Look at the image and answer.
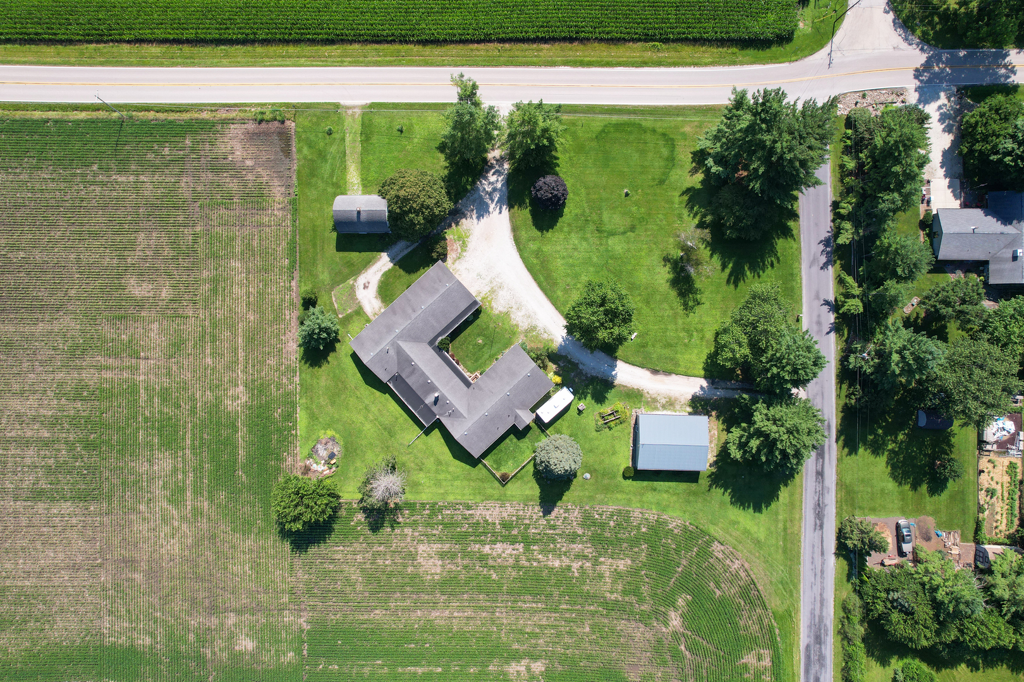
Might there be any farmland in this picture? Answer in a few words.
Yes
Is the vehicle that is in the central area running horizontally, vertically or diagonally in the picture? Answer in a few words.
diagonally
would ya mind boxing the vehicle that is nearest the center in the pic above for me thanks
[537,386,572,421]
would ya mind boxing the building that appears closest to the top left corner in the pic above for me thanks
[332,195,390,234]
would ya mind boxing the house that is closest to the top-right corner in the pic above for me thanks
[930,190,1024,284]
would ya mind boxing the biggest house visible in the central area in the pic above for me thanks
[348,259,556,459]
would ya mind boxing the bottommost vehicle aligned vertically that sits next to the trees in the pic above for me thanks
[896,521,914,557]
